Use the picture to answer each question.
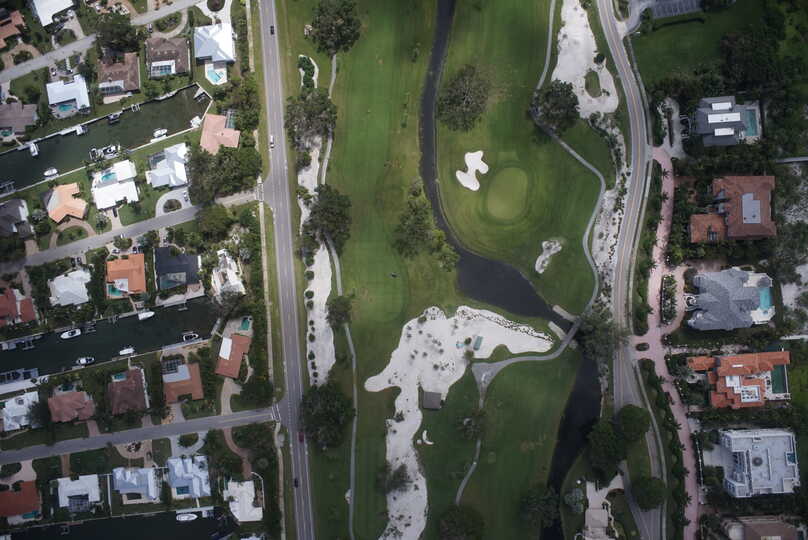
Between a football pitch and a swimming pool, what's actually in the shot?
swimming pool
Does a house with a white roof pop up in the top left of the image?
Yes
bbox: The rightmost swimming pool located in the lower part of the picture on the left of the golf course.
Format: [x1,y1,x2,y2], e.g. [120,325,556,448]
[223,315,252,336]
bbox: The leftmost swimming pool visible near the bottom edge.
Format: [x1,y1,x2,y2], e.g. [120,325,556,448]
[8,508,41,525]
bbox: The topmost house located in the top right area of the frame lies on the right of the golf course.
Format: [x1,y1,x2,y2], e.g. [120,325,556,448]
[692,96,746,148]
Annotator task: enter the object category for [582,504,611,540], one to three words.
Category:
building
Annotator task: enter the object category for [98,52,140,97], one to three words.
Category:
house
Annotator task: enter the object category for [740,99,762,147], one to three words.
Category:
swimming pool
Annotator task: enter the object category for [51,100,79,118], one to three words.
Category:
swimming pool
